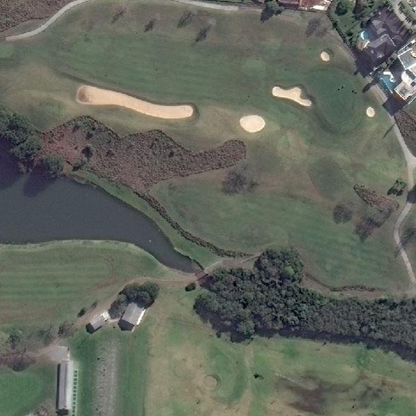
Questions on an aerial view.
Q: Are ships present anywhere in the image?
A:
No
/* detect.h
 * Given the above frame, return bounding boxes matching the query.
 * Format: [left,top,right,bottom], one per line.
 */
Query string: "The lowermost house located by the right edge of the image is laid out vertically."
[394,47,416,100]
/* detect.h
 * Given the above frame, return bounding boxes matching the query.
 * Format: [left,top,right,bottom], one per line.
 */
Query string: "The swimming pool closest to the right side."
[377,74,398,92]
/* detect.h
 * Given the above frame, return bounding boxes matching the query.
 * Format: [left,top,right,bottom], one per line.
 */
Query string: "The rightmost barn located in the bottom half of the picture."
[122,303,146,325]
